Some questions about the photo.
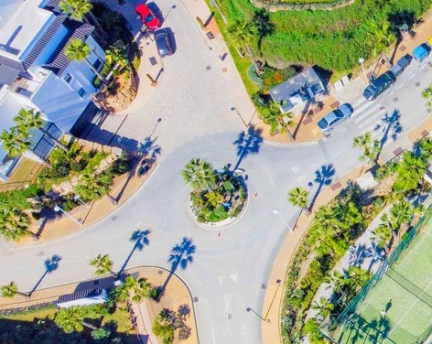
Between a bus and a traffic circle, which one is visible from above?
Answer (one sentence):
Of the two, only a traffic circle appears.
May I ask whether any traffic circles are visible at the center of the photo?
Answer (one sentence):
Yes, a traffic circle is visible at the center of the photo.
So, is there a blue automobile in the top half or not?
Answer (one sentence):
Yes, a blue automobile can be seen in the top half.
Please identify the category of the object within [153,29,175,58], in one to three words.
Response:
car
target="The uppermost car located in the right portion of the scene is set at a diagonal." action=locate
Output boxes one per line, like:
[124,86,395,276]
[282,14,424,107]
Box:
[363,70,398,101]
